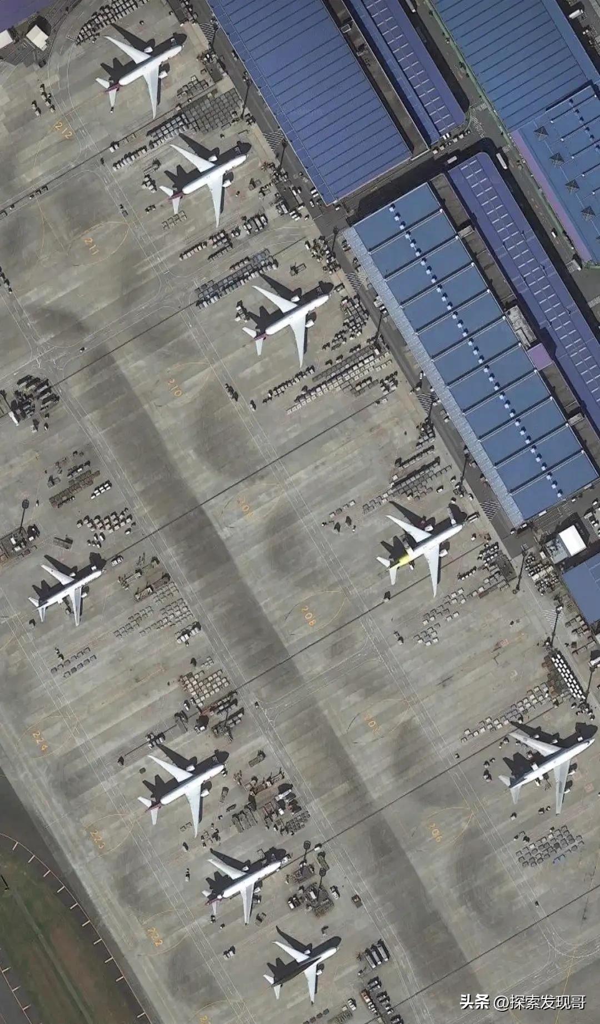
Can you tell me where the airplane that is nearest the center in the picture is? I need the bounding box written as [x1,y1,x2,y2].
[376,516,464,597]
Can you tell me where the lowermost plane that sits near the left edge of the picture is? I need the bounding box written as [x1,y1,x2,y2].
[28,565,102,625]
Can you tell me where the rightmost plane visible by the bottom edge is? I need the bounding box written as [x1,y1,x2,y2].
[262,943,335,1004]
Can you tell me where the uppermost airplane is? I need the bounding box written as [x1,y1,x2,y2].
[95,36,183,118]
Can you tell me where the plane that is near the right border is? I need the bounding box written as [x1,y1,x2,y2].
[498,733,591,815]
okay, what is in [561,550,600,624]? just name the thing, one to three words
building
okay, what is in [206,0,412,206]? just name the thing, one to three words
warehouse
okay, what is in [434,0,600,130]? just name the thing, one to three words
warehouse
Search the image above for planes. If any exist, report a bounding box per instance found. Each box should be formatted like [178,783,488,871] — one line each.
[498,733,591,815]
[376,516,464,597]
[243,285,331,367]
[95,36,183,118]
[159,144,247,227]
[262,943,335,1004]
[28,565,102,625]
[138,756,225,836]
[199,859,279,926]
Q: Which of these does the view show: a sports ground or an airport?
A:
airport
